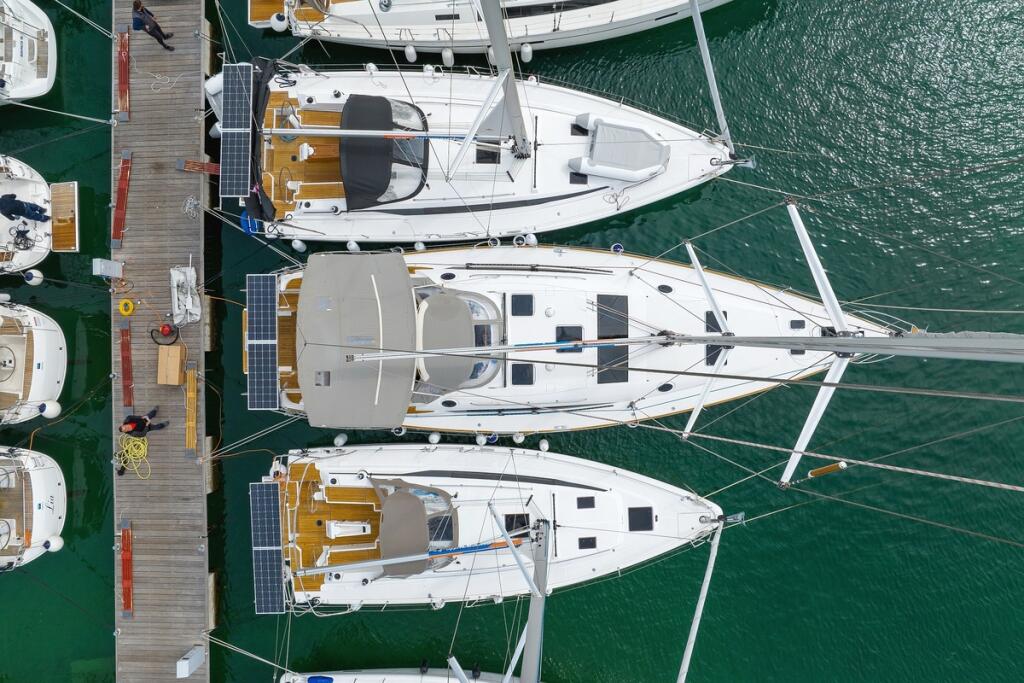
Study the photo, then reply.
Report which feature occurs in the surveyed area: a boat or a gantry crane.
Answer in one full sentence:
The image shows a boat.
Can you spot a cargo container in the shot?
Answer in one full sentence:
No, no cargo container is visible in the view.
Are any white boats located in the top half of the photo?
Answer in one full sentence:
Yes, a white boat shows up in the top half of the photo.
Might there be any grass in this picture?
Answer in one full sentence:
No, the scene doesn't show any grass.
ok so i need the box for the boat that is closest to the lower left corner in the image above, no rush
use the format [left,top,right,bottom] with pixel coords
[0,448,68,570]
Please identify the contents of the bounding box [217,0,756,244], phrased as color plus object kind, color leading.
white boat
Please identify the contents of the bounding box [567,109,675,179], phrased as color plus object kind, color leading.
white boat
